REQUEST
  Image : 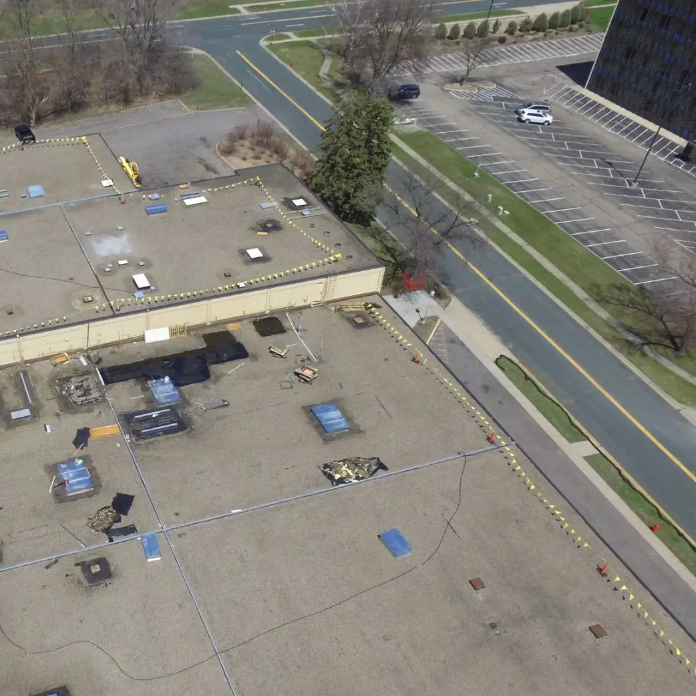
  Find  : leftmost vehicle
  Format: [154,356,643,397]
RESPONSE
[11,126,39,142]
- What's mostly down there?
buildings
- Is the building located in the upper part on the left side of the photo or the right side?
right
